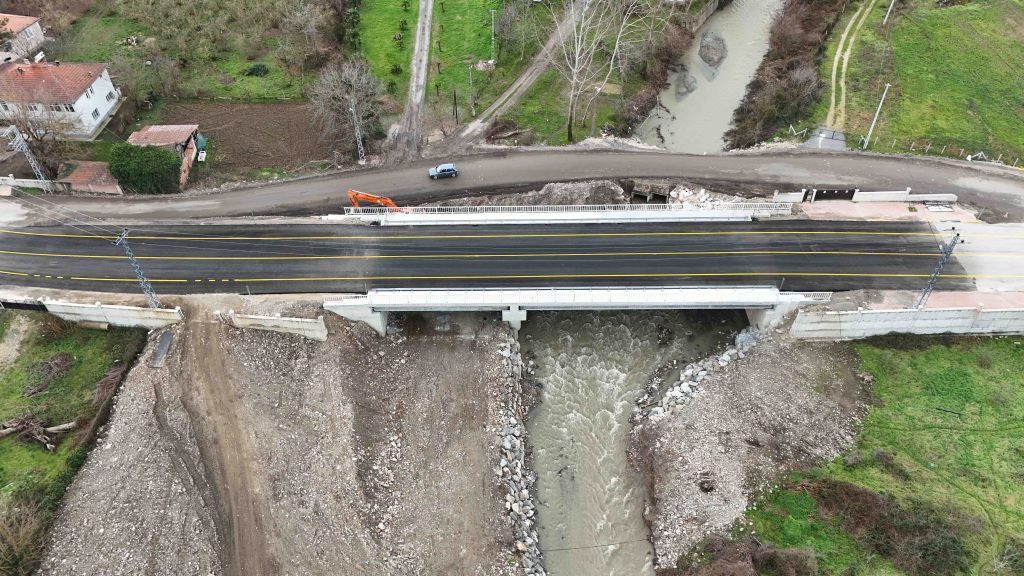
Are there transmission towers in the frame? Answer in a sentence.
Yes, there's a transmission tower down there.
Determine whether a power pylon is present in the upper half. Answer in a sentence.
Yes, the scene does show a power pylon in the upper half.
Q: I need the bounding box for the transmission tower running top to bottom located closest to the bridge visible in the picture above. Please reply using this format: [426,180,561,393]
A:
[350,96,367,163]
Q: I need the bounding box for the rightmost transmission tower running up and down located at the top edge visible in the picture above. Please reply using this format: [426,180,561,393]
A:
[486,8,498,63]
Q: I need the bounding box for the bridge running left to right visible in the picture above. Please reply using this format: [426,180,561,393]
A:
[320,201,835,337]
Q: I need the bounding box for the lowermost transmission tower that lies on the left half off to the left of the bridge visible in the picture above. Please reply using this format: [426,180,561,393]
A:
[108,224,164,315]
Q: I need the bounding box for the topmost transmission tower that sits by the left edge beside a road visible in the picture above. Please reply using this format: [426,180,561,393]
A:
[7,121,57,193]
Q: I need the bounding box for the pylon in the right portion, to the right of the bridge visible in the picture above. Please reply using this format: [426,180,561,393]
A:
[913,226,971,314]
